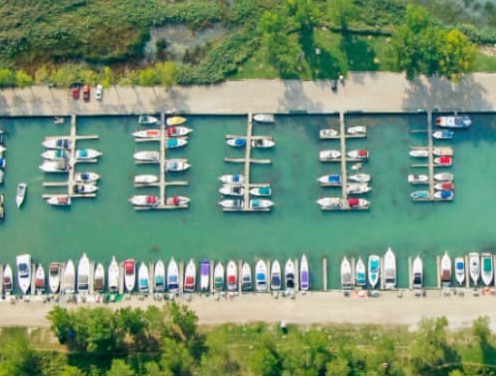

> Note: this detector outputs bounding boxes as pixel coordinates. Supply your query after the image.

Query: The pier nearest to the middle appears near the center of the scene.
[223,115,271,212]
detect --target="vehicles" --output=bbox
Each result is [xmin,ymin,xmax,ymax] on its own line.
[96,85,103,99]
[72,85,78,99]
[82,84,90,100]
